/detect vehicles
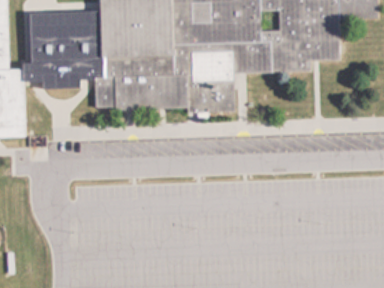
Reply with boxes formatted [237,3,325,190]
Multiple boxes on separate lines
[76,141,82,153]
[61,141,66,153]
[67,140,72,152]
